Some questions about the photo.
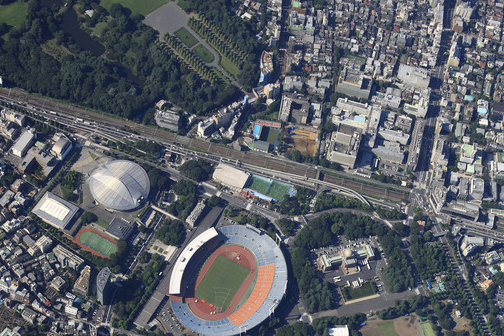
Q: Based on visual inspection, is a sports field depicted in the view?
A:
Yes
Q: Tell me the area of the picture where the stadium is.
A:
bottom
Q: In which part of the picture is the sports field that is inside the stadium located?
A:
bottom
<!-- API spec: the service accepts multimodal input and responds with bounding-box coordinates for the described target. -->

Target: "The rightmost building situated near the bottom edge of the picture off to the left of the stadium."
[137,289,165,320]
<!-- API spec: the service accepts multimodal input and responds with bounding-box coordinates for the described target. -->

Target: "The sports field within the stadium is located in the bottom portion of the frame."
[194,254,251,310]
